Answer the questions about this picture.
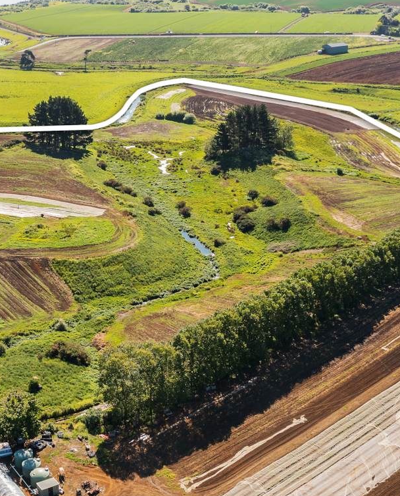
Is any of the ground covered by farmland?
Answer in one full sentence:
Yes, there is farmland in the image.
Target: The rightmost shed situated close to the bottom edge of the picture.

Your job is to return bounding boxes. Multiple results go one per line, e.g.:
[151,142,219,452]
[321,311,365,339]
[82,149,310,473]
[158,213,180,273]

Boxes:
[36,475,59,496]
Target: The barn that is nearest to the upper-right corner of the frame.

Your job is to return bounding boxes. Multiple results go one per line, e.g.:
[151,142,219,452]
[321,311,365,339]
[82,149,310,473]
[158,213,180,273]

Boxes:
[316,41,353,55]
